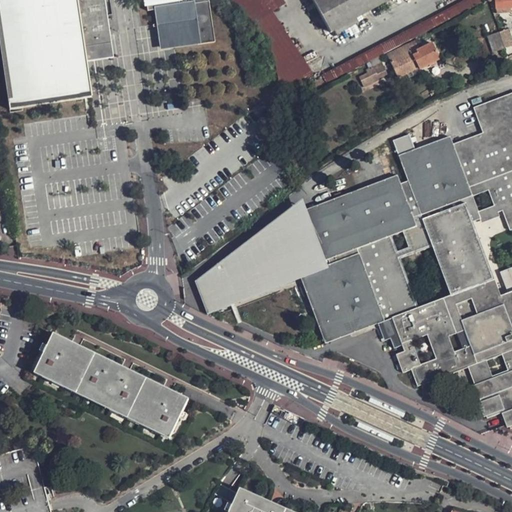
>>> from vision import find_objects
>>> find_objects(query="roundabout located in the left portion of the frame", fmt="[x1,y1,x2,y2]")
[126,278,168,321]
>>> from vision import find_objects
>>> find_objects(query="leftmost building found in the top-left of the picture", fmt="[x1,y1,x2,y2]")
[0,0,94,114]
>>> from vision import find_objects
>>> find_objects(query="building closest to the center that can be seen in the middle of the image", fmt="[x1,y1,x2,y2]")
[194,199,328,316]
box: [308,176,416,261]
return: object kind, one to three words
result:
building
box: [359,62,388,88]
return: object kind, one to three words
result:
house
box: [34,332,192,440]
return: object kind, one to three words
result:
building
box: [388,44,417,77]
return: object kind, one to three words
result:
house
